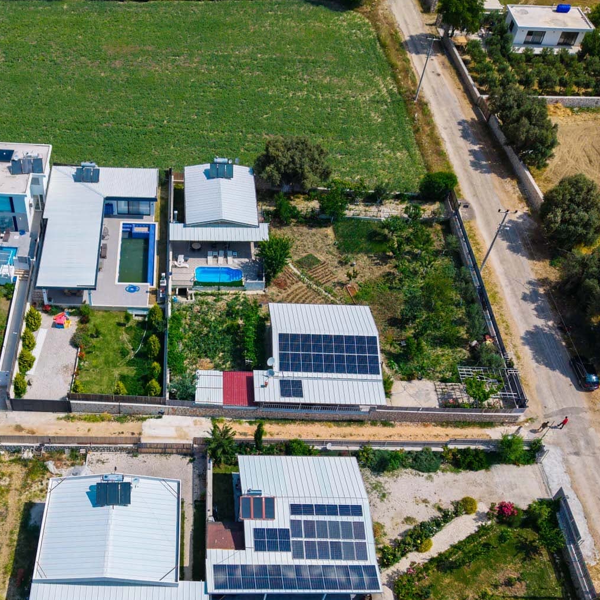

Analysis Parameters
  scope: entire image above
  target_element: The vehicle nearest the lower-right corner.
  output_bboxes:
[565,357,600,393]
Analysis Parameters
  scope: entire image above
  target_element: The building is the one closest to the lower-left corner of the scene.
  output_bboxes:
[29,472,208,600]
